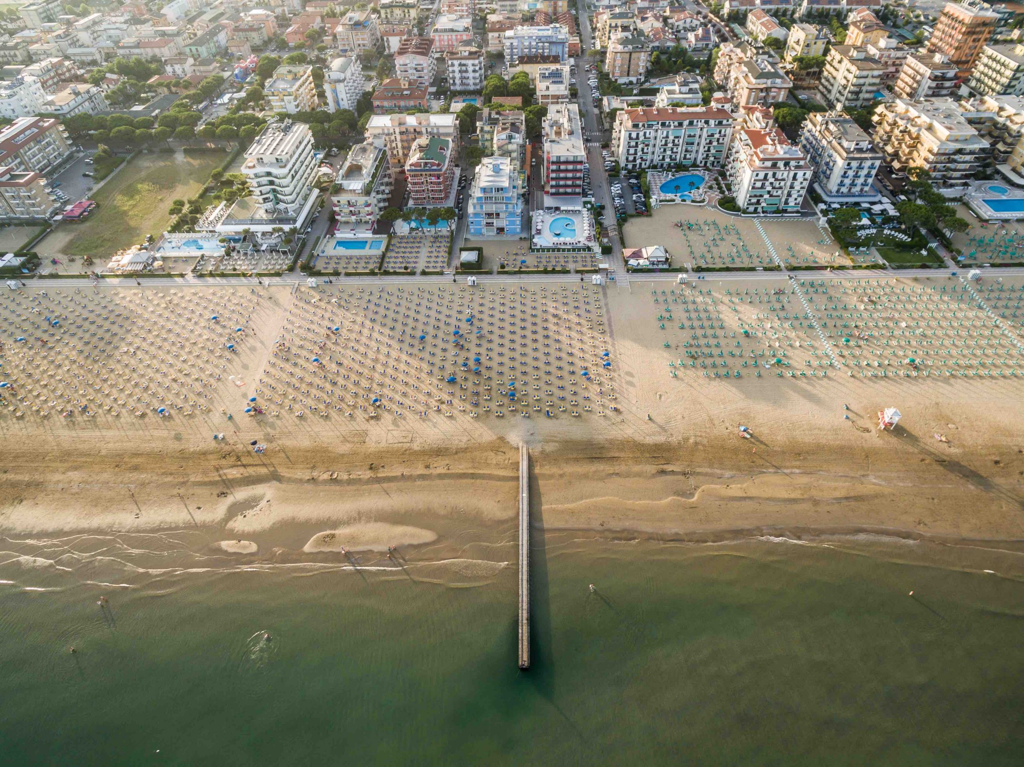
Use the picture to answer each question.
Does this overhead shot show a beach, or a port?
beach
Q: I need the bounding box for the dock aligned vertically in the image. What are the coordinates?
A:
[517,440,531,670]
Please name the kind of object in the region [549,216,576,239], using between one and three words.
swimming pool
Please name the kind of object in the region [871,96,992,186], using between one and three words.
building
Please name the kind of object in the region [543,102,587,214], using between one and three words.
building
